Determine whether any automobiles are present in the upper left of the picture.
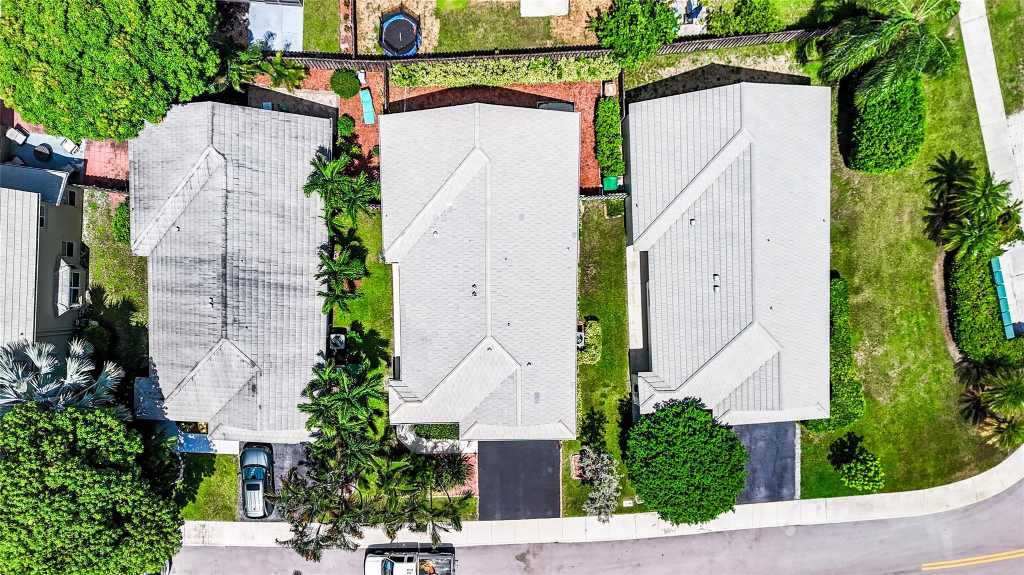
No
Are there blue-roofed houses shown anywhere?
No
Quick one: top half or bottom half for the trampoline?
top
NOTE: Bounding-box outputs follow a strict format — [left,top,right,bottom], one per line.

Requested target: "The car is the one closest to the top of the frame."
[237,443,275,519]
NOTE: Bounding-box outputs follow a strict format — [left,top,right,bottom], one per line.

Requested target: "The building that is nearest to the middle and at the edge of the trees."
[379,103,581,442]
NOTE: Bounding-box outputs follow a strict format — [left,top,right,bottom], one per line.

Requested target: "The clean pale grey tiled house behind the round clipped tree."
[625,82,832,425]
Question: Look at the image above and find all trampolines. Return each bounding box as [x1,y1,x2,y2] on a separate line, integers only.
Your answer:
[375,0,422,59]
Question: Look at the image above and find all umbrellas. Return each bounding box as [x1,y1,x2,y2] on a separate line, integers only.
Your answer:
[683,0,709,25]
